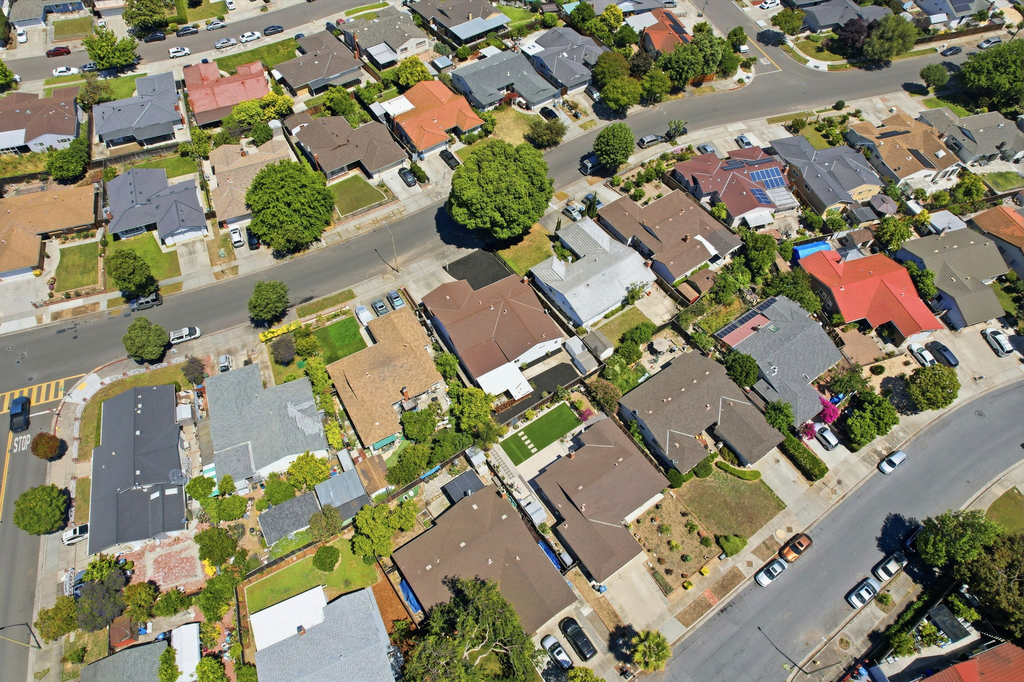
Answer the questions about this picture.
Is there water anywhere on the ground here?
No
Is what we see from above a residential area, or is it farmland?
residential area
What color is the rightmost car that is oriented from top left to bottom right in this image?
white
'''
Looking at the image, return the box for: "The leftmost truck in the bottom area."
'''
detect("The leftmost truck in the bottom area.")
[7,394,30,432]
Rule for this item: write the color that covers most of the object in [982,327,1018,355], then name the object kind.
white car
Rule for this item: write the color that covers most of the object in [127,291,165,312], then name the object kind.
gray car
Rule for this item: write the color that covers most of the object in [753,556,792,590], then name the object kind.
white car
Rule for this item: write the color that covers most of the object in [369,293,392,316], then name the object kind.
gray car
